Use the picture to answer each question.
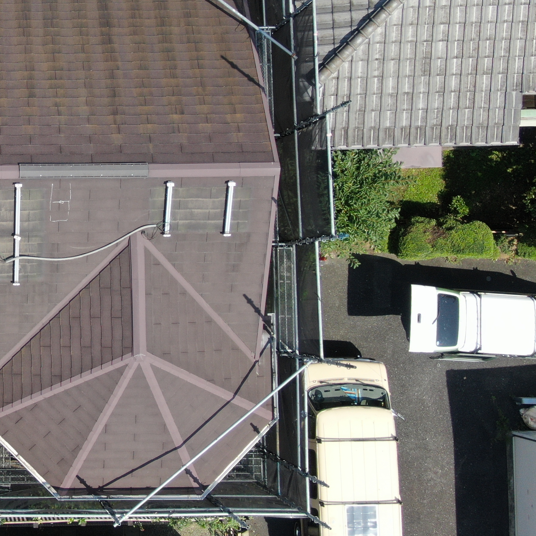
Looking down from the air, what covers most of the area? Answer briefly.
buildings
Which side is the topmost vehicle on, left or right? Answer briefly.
right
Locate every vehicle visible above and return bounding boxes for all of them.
[412,285,536,370]
[291,356,409,536]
